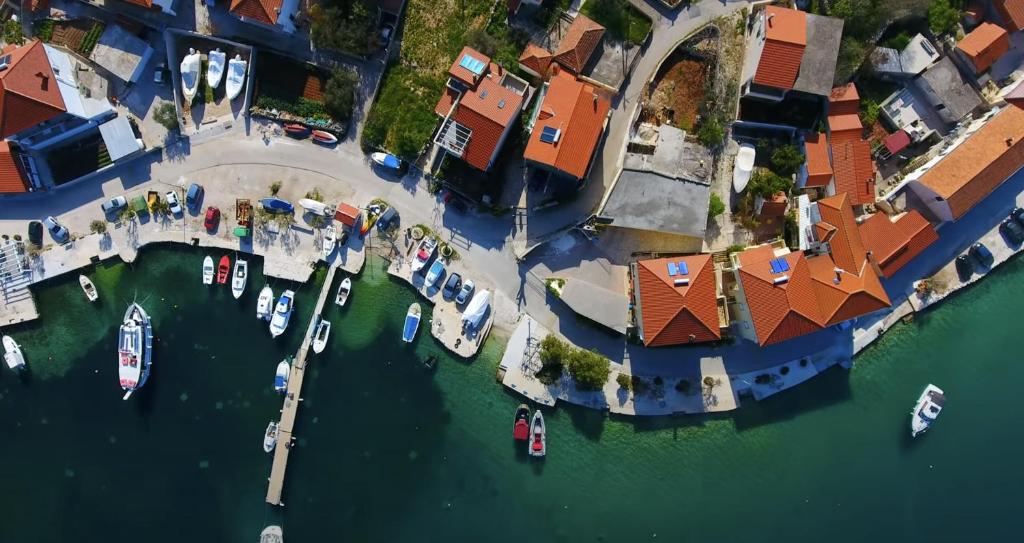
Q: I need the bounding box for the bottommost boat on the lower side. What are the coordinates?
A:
[260,504,284,543]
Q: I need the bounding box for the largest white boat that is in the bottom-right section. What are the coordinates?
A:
[910,383,948,438]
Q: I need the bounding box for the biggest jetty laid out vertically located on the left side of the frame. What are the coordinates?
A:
[266,264,338,505]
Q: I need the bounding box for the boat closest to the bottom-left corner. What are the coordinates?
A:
[1,335,26,372]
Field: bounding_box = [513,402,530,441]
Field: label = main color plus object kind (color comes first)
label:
red boat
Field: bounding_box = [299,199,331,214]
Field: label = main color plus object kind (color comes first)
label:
white boat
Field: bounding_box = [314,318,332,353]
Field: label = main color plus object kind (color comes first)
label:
white boat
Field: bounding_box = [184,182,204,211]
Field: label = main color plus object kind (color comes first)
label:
blue car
